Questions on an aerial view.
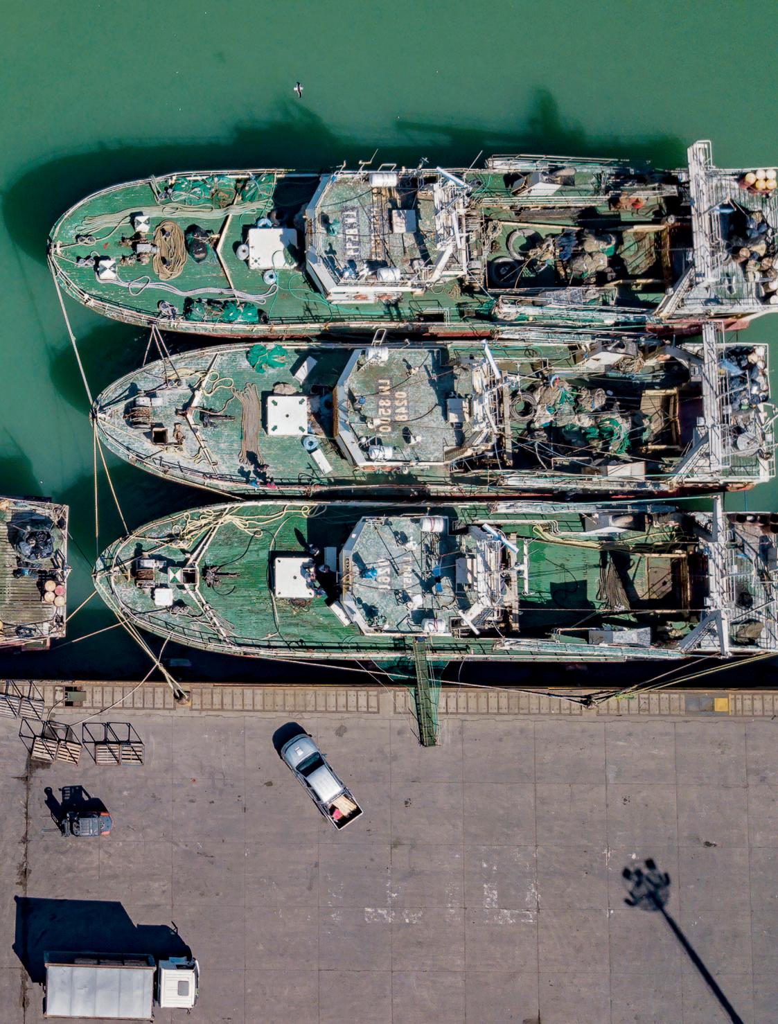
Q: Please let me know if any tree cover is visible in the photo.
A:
No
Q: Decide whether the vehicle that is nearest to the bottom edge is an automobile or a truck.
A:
truck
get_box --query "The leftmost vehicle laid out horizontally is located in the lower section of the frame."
[43,814,109,840]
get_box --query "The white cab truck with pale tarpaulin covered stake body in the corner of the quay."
[44,956,205,1019]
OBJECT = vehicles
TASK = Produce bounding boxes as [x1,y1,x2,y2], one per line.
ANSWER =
[44,956,205,1019]
[43,814,109,840]
[285,730,364,832]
